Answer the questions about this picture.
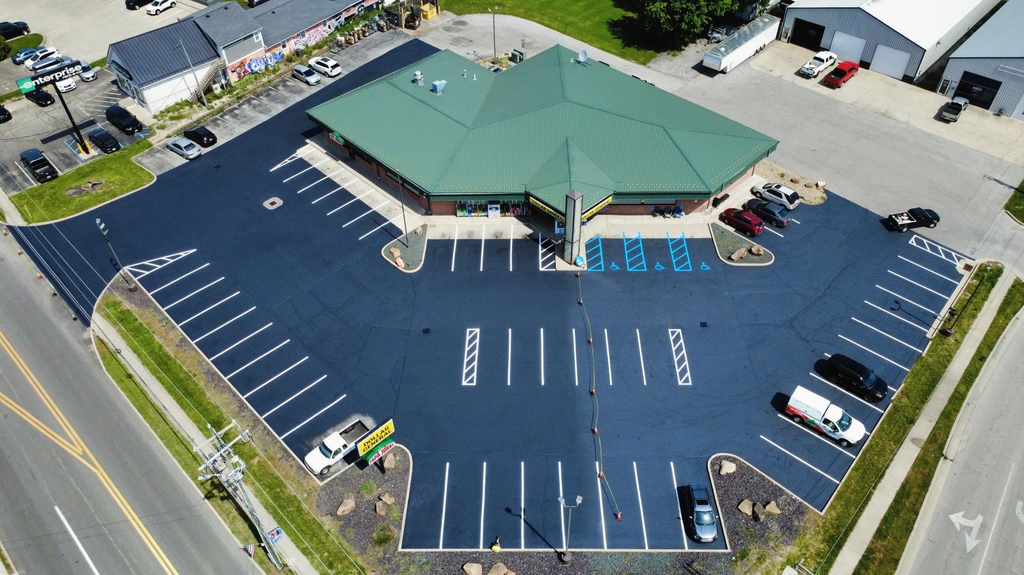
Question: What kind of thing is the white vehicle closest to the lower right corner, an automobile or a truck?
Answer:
truck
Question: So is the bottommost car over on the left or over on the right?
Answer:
right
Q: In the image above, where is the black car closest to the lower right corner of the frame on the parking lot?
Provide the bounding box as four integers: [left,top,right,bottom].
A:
[818,353,889,404]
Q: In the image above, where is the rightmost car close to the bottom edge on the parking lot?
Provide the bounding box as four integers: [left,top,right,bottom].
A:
[683,482,719,548]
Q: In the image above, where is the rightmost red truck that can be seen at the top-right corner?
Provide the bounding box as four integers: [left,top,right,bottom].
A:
[824,65,858,87]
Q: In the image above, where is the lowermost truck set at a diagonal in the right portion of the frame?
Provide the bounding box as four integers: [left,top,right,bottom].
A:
[785,381,869,450]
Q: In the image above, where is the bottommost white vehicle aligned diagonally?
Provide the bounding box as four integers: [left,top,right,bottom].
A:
[303,418,369,478]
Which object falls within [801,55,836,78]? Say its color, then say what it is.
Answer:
white truck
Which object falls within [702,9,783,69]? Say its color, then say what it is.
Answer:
white trailer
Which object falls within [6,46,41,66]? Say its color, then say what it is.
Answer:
blue car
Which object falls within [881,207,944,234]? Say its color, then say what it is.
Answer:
black truck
